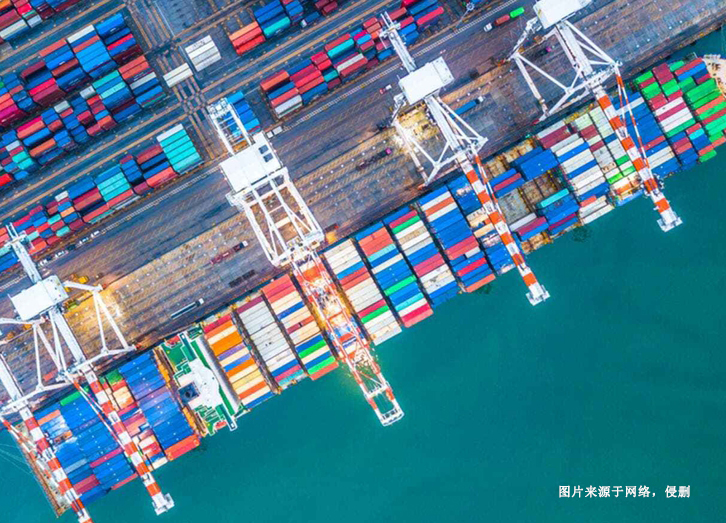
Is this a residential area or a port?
port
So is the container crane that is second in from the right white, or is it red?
white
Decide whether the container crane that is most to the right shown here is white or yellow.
white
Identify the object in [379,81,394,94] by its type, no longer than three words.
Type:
vehicle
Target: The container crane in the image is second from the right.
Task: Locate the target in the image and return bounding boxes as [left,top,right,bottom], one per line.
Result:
[376,7,554,305]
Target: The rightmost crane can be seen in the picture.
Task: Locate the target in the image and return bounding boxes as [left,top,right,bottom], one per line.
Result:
[495,0,686,232]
